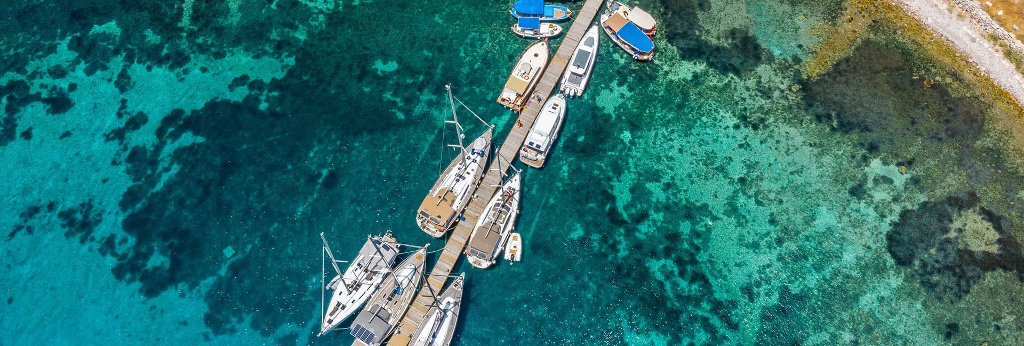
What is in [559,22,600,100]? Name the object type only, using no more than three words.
boat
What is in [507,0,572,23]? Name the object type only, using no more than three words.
boat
